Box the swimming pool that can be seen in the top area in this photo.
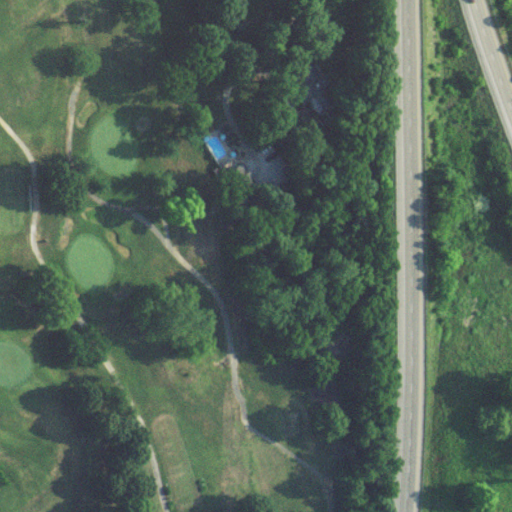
[208,136,226,162]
